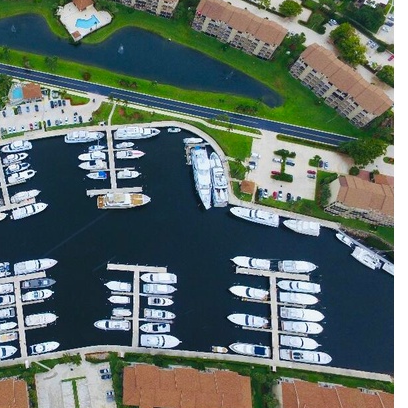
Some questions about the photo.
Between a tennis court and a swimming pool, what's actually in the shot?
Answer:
swimming pool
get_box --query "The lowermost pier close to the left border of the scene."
[0,271,47,358]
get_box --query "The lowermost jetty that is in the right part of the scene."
[236,268,311,359]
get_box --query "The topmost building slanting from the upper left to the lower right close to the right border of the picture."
[290,42,392,127]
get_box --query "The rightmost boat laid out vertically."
[209,152,228,210]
